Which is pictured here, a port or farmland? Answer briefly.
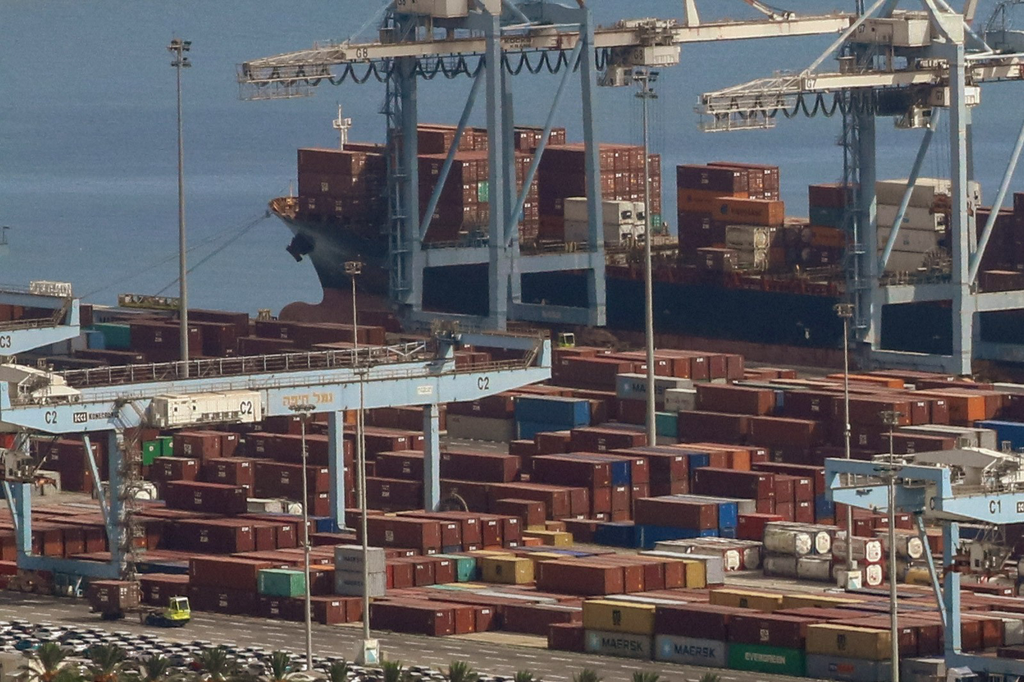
port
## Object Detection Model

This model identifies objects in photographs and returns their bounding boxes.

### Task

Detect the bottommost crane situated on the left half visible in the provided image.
[0,315,551,582]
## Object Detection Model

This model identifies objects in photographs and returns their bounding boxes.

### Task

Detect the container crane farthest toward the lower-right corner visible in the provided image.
[817,432,1024,682]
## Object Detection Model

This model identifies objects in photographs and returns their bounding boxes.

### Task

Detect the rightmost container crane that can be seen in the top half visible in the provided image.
[687,0,1024,376]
